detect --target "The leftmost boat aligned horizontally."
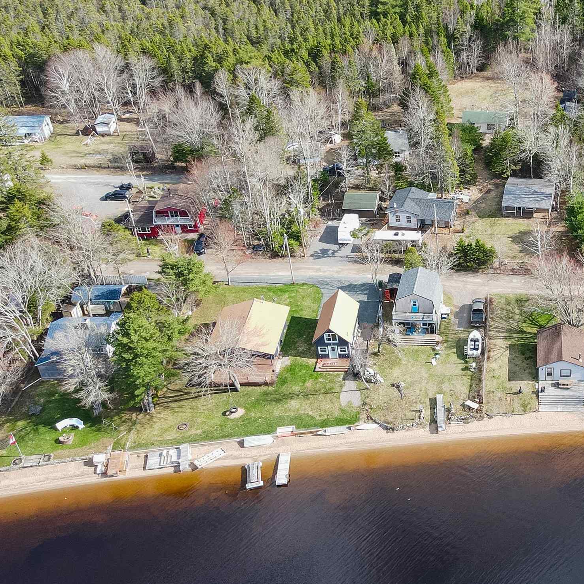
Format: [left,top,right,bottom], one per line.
[243,434,281,447]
